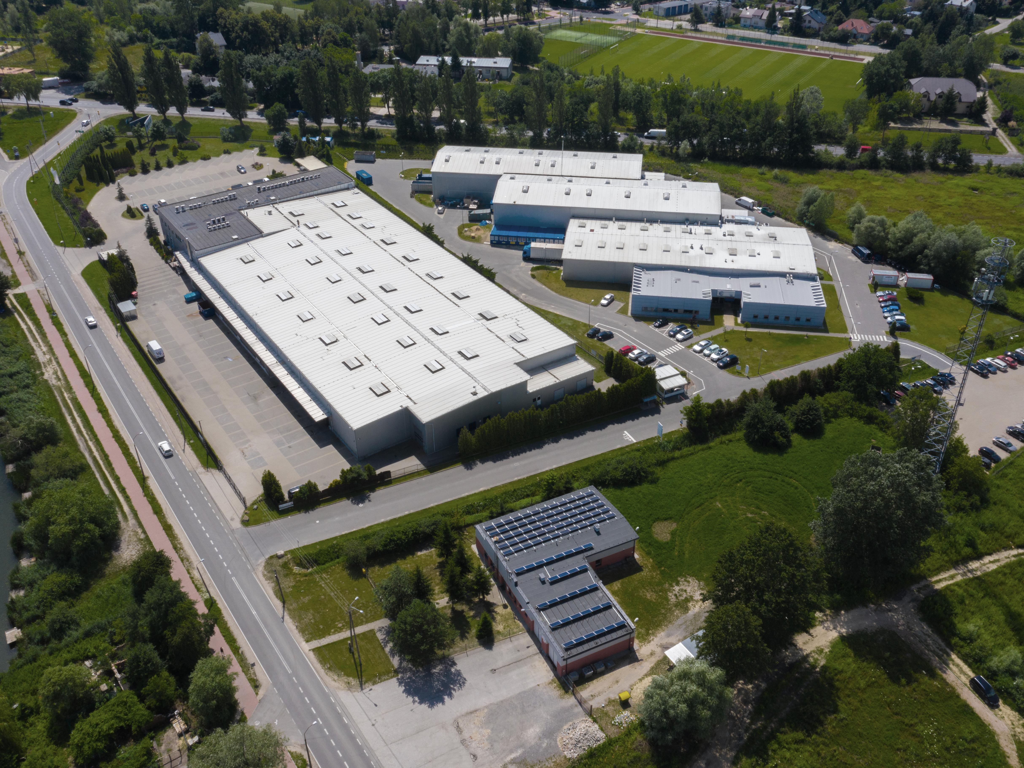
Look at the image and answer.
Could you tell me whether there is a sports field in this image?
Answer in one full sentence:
Yes, the frame does contain a sports field.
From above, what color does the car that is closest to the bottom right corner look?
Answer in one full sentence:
The car that is closest to the bottom right corner is black.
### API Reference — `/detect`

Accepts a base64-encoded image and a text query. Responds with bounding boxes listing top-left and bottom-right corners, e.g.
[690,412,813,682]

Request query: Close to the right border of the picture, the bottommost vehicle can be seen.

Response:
[968,676,1002,709]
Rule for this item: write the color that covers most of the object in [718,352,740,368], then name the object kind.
black car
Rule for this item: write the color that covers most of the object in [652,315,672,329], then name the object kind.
black car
